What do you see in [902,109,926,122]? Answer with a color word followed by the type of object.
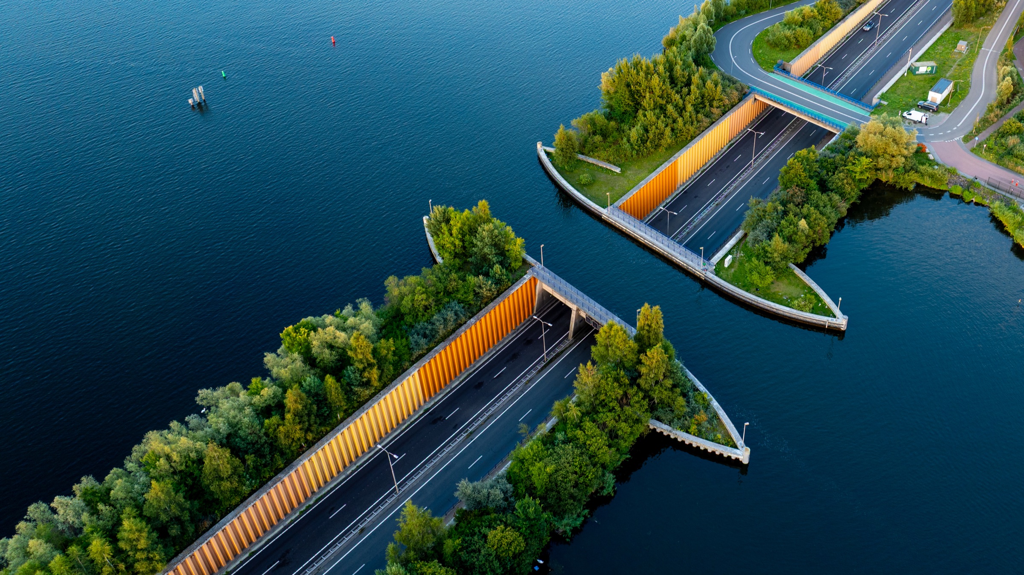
white vehicle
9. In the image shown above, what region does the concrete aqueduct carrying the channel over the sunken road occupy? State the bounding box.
[532,214,705,344]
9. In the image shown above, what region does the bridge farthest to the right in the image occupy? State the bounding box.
[749,71,875,133]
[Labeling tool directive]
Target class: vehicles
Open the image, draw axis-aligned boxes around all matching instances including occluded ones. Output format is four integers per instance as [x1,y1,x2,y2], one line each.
[916,101,939,112]
[864,21,875,30]
[902,109,926,122]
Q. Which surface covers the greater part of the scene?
water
